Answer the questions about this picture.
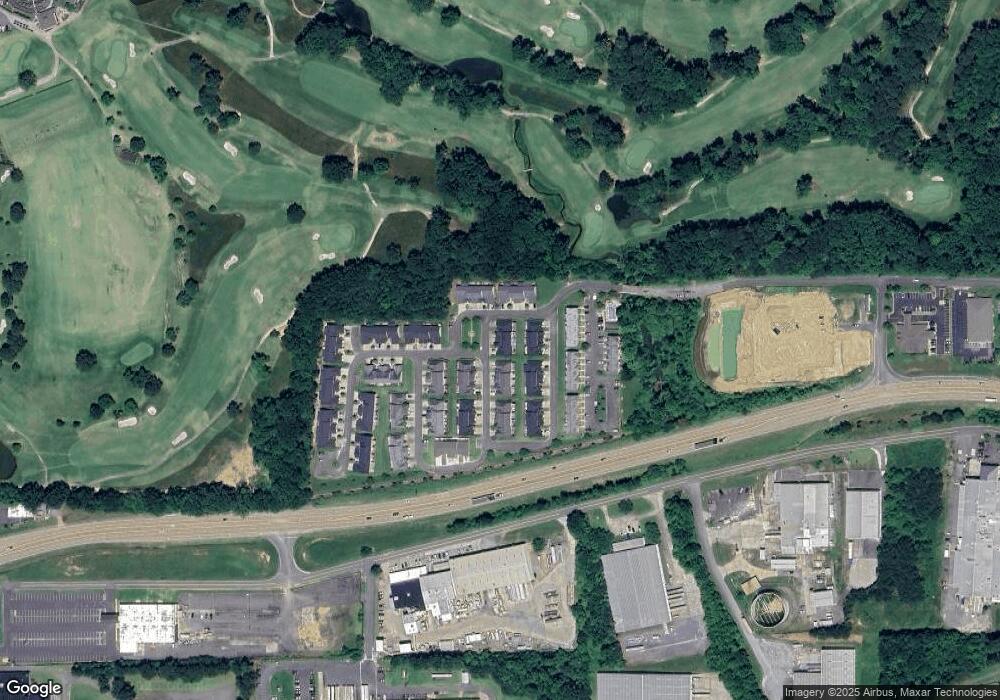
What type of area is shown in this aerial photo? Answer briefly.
golf course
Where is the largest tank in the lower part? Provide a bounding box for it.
[752,592,789,629]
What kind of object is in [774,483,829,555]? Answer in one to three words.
building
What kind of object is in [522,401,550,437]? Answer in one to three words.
house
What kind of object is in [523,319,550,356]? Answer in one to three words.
house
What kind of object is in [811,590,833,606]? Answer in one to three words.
shed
